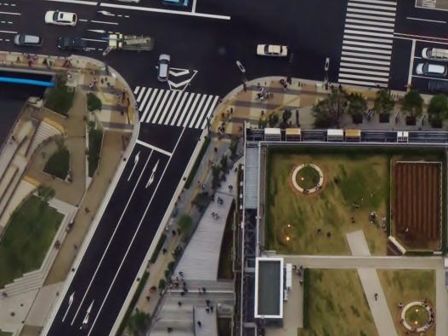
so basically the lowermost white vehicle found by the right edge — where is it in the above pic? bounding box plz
[417,63,446,78]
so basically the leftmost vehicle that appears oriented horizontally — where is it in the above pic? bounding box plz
[14,32,43,47]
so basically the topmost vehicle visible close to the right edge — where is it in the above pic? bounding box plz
[422,45,448,60]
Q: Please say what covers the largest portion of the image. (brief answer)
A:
paved ground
